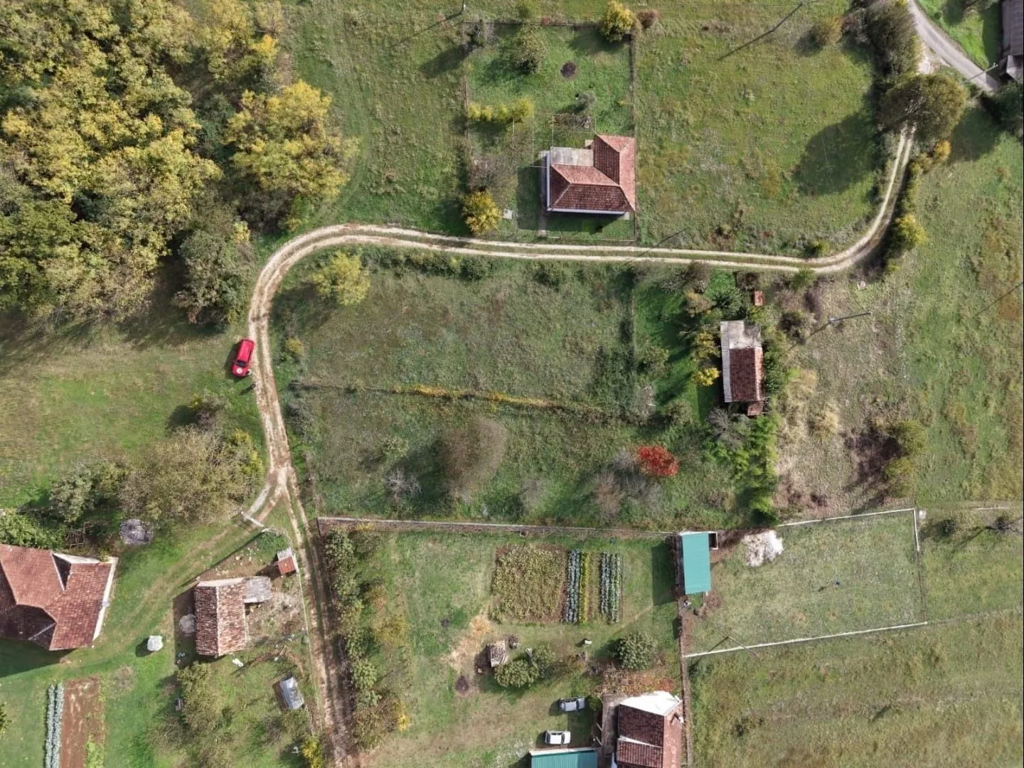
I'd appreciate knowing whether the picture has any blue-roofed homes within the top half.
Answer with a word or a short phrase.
No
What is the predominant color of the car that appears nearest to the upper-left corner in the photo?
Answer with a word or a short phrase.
red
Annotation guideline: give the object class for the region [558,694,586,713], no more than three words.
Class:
car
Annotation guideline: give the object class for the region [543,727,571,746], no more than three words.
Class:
car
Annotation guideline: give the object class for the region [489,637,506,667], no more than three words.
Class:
shed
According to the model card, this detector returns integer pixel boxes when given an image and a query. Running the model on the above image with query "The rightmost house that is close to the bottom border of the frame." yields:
[591,680,684,768]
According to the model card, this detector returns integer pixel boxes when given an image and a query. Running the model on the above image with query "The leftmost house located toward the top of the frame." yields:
[547,134,636,221]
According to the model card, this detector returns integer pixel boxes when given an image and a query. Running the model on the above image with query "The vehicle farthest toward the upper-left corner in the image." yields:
[231,338,256,379]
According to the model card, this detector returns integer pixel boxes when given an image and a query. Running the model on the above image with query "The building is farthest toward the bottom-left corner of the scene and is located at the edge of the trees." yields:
[0,544,117,652]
